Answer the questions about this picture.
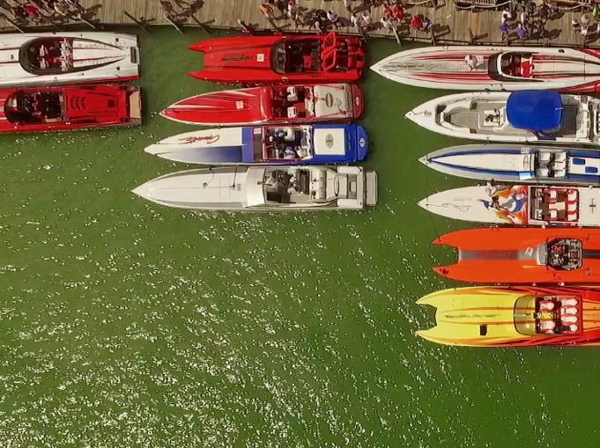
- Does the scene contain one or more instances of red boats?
Yes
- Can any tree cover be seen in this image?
No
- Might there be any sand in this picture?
No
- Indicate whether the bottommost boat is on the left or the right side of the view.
right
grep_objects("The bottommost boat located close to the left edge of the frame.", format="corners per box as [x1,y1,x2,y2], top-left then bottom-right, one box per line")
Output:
[0,85,149,132]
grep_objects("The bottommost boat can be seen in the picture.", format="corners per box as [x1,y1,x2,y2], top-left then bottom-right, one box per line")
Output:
[416,286,600,348]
